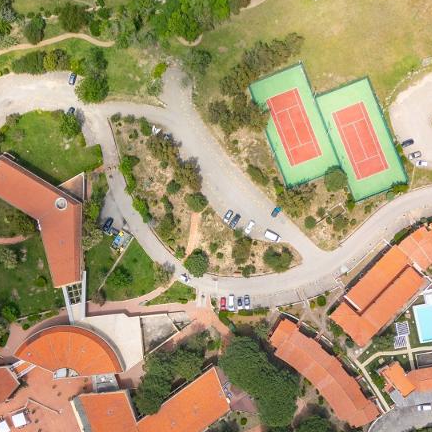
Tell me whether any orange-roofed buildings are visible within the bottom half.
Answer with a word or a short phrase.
Yes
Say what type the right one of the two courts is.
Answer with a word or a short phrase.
tennis court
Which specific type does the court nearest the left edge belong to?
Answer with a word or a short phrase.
tennis court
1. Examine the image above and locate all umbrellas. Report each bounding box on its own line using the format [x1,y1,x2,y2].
[0,420,10,432]
[12,412,27,428]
